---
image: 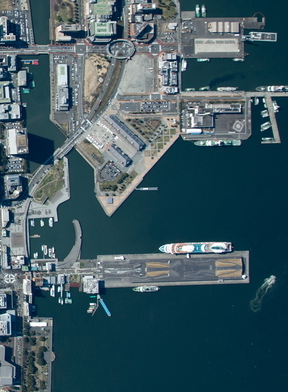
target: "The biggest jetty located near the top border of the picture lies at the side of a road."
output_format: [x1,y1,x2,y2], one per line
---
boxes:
[180,11,265,58]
